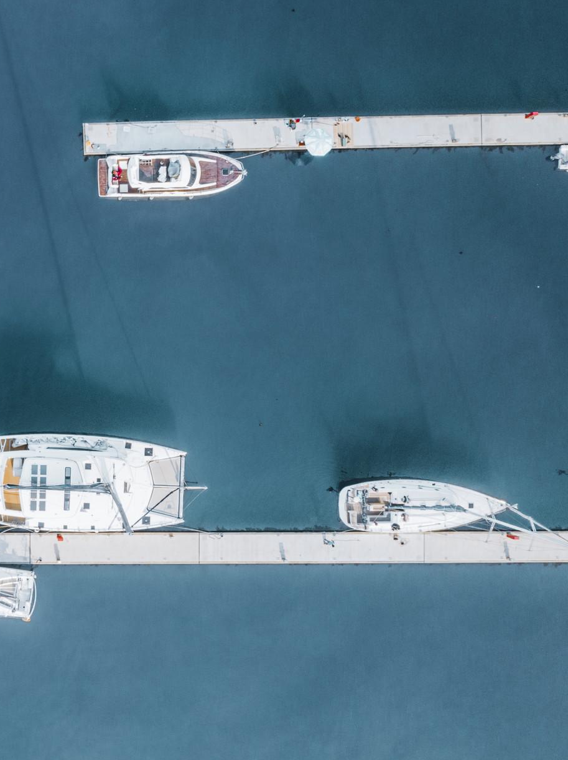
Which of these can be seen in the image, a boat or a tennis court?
boat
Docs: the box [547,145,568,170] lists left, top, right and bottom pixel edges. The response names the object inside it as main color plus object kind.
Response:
white boat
